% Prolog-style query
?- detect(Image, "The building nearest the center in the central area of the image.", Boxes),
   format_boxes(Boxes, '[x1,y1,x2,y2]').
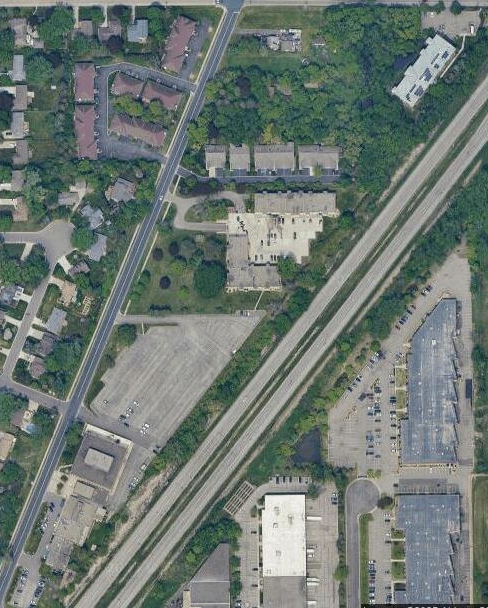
[227,234,280,291]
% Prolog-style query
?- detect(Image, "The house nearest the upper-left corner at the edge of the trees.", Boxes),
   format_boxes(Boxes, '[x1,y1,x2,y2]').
[11,18,26,46]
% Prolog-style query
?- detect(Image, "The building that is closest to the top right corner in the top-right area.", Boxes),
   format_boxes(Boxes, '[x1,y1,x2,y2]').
[392,34,456,106]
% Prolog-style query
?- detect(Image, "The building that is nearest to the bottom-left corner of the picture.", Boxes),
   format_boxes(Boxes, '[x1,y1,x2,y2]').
[47,538,73,571]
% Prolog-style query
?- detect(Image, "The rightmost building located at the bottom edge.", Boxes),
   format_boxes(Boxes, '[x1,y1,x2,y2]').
[393,495,460,608]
